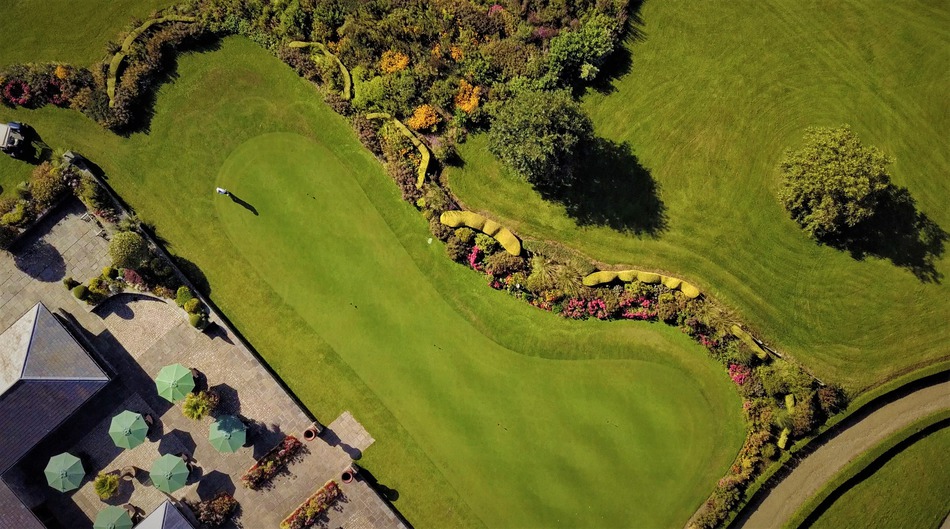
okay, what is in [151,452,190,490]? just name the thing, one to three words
umbrella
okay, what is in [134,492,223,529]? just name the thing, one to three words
building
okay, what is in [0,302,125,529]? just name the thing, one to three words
building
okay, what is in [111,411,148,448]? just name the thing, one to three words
umbrella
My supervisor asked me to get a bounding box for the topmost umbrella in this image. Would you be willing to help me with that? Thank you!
[158,362,197,400]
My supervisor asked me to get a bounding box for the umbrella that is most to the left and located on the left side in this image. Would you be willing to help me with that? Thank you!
[49,453,91,489]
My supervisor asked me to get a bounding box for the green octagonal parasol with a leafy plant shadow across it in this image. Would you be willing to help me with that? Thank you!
[211,415,250,453]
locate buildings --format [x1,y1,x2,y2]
[134,492,223,529]
[0,302,125,529]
